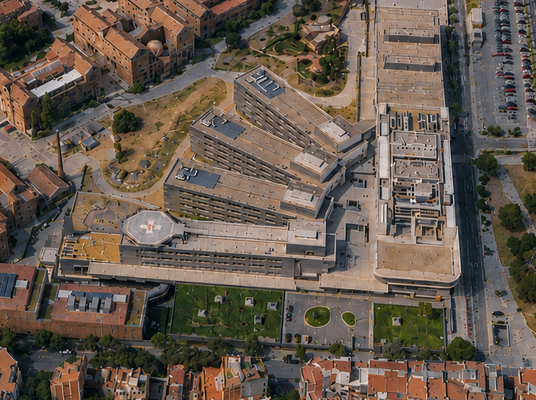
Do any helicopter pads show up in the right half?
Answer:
No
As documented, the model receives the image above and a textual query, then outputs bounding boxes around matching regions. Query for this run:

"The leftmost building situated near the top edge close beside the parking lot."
[374,0,446,114]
